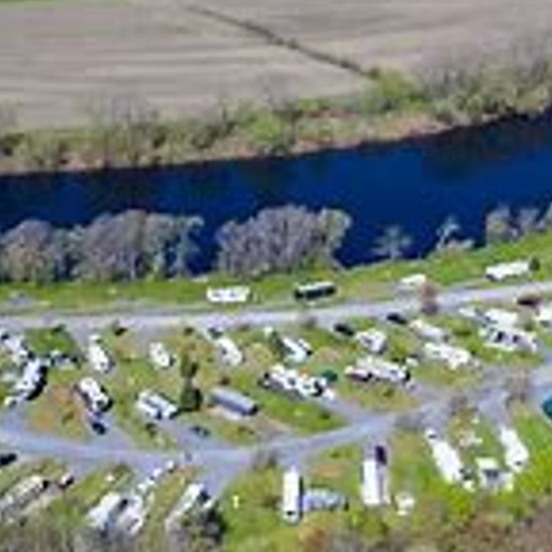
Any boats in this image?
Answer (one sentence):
No, no boat can be seen from above.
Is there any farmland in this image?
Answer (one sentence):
Yes, some farmland is visible.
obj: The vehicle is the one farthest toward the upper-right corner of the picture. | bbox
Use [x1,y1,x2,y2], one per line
[484,263,529,288]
